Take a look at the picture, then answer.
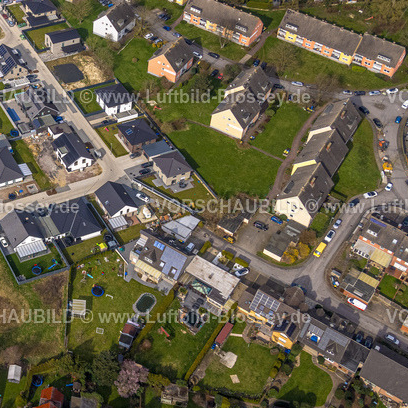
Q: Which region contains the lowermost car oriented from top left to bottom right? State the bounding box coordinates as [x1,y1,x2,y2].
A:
[382,332,401,346]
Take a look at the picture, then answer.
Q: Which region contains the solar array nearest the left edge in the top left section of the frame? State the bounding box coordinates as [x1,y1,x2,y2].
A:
[0,47,14,75]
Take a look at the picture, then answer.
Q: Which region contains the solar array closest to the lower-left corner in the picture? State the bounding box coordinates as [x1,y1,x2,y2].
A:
[157,248,187,279]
